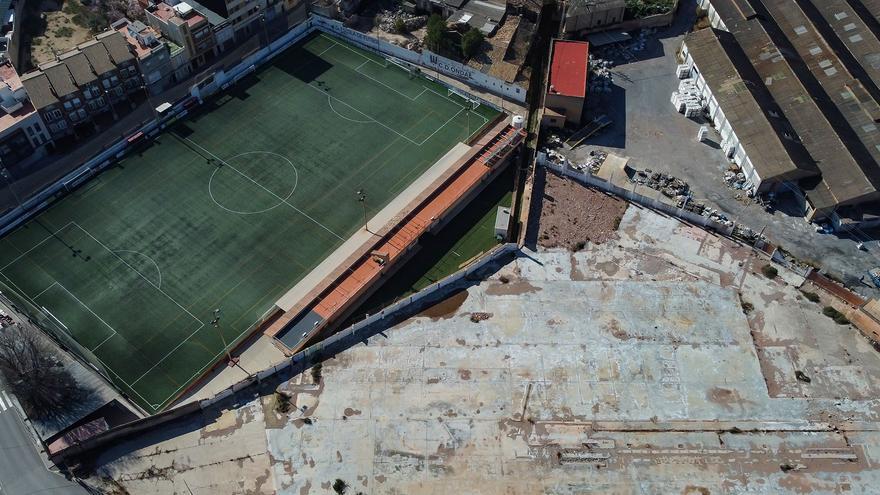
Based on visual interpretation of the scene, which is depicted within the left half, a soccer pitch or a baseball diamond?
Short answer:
soccer pitch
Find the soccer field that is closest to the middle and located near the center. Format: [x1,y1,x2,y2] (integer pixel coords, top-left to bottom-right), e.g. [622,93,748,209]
[330,165,516,338]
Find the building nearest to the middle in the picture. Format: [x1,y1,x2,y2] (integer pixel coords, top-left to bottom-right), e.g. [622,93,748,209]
[495,206,511,237]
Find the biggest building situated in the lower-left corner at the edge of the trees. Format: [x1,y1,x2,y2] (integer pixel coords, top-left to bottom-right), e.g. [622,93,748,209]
[42,400,146,470]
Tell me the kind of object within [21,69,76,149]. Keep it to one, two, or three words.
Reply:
house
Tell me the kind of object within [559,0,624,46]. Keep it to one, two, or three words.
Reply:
hangar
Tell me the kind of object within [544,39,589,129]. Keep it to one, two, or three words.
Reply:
building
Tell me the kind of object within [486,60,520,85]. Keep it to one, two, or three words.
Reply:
house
